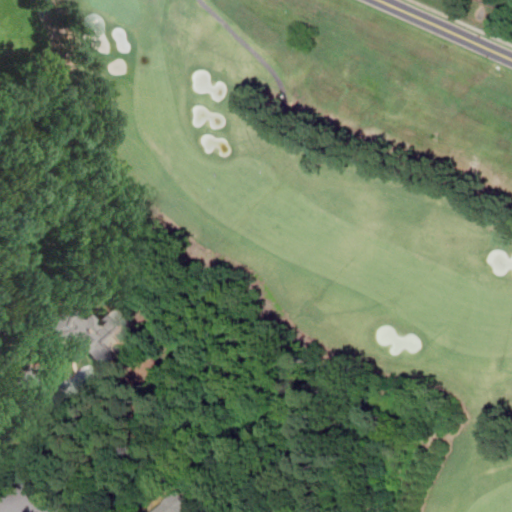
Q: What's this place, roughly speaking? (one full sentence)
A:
This image shows a golf course.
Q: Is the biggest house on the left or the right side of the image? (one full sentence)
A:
You can find the biggest house on the left side of the picture.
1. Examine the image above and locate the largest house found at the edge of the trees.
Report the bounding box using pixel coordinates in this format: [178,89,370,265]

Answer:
[54,308,125,362]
